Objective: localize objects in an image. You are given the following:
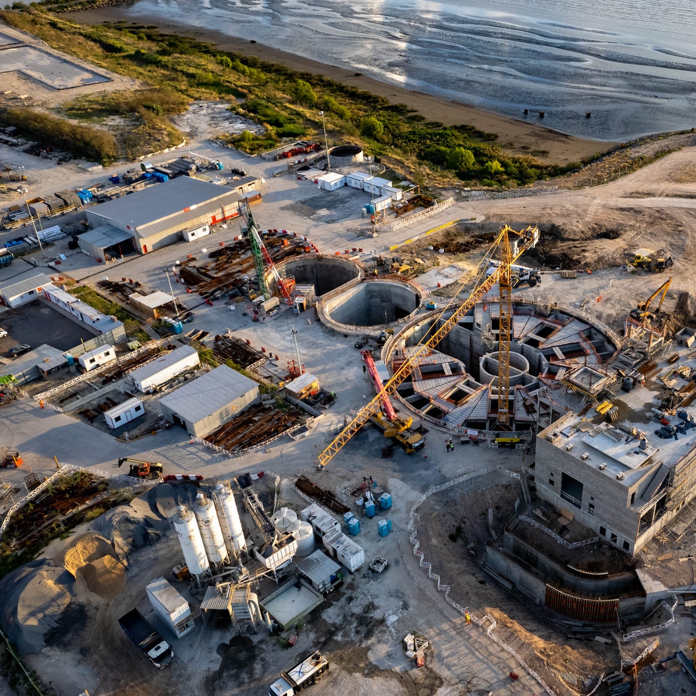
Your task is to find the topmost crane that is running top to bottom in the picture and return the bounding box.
[241,194,293,317]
